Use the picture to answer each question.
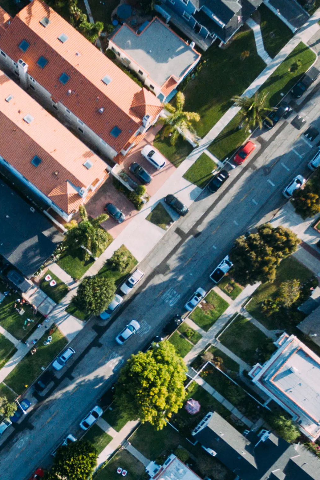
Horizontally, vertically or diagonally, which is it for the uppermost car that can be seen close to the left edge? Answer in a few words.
diagonally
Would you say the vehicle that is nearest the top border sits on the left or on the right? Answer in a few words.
right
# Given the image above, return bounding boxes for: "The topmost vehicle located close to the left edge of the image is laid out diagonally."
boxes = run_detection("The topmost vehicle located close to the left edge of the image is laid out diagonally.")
[3,265,31,291]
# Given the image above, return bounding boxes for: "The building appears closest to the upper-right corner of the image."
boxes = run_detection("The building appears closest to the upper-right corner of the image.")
[262,0,311,37]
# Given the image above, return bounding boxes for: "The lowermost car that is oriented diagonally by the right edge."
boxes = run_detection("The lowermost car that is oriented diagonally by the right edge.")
[281,173,307,201]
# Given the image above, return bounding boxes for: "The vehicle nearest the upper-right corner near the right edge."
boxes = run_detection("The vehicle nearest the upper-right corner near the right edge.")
[291,66,320,99]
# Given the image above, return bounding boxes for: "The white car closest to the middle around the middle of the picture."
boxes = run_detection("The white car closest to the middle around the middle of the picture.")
[120,268,146,295]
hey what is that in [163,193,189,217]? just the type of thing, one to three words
car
